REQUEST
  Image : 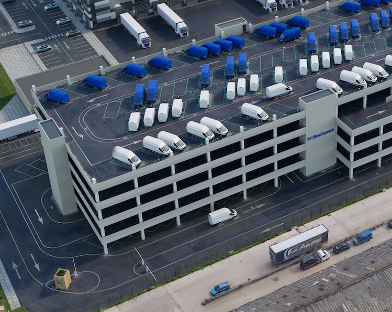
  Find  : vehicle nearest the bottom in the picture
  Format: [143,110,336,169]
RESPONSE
[209,281,230,297]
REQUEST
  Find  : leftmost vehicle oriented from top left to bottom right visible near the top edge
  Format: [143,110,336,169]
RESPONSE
[116,14,147,49]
